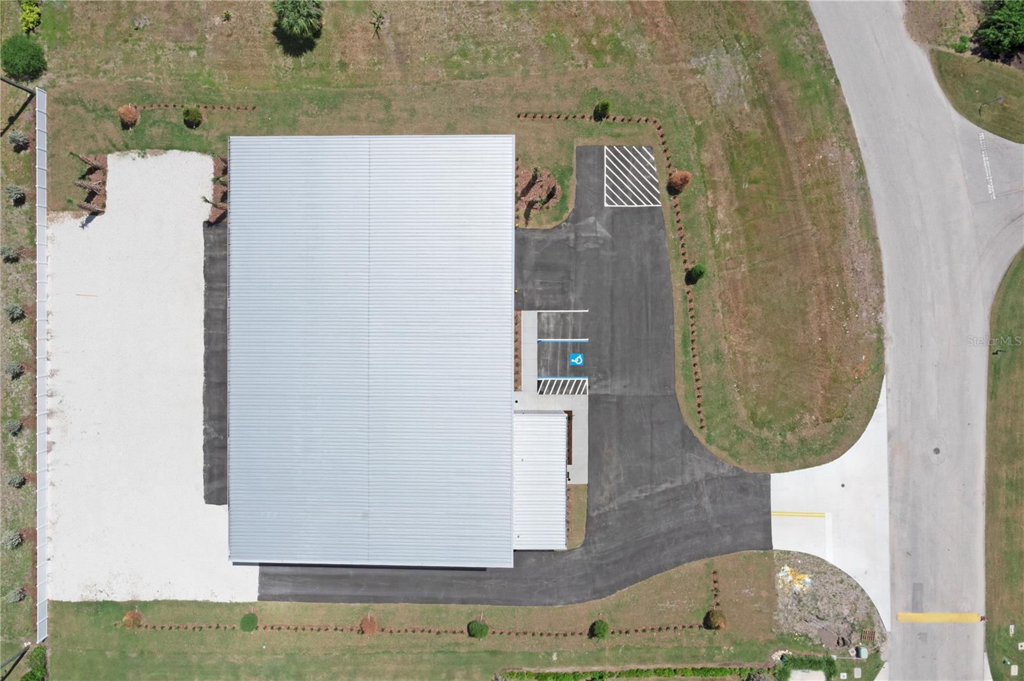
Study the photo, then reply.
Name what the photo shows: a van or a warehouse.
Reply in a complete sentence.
The one in the frame is a warehouse.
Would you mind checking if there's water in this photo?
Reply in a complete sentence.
No, no water is visible.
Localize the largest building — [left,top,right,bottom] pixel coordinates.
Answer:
[226,134,515,567]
